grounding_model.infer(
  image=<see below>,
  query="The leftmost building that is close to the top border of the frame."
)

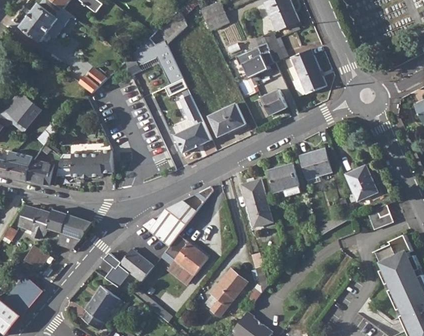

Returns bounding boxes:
[18,2,56,41]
